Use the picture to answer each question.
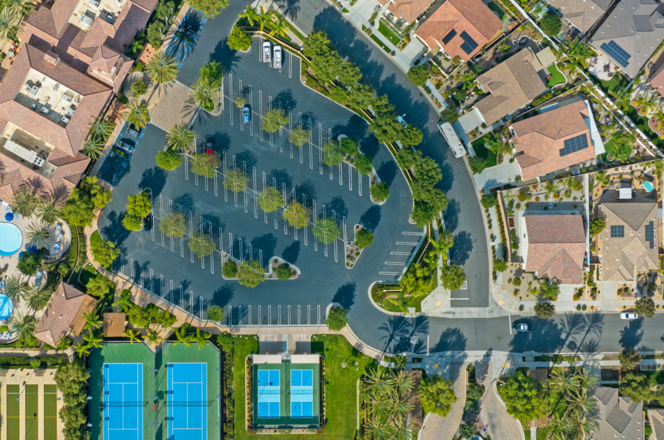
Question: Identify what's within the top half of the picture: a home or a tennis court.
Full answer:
The one visible within the top half of the picture is a home.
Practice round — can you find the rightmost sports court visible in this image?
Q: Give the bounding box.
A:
[285,356,320,427]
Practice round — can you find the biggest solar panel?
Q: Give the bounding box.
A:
[560,134,588,157]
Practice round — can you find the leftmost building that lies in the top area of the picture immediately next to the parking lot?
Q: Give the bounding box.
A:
[0,0,155,205]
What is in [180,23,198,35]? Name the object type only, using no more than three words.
vehicle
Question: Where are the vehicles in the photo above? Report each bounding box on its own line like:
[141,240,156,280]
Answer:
[436,121,470,159]
[117,139,134,152]
[180,23,198,35]
[144,214,153,231]
[242,105,250,123]
[123,124,141,137]
[273,45,281,66]
[512,323,531,332]
[620,312,637,320]
[263,42,271,63]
